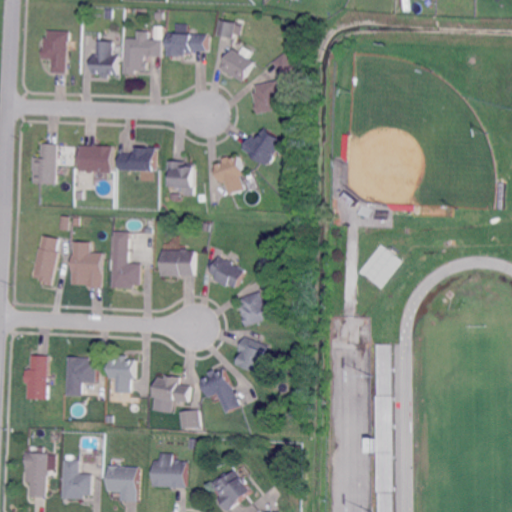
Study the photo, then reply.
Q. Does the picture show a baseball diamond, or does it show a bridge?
baseball diamond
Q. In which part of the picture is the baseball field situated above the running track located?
top right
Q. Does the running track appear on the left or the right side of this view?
right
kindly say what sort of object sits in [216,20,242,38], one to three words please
building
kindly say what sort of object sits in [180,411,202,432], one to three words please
building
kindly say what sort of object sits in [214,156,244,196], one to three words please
house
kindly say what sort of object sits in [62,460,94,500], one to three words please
house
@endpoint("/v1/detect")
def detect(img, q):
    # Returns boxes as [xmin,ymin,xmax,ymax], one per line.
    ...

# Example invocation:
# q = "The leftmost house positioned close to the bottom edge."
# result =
[24,454,50,500]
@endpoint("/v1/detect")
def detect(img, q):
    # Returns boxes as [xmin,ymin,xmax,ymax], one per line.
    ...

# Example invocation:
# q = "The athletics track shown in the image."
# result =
[400,256,512,512]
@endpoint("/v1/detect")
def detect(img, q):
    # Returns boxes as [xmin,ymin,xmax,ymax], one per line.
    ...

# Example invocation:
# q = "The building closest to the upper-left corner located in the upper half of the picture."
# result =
[40,30,70,73]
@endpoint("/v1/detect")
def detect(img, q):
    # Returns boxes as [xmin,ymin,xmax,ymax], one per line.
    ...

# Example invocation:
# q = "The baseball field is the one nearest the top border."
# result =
[348,53,497,218]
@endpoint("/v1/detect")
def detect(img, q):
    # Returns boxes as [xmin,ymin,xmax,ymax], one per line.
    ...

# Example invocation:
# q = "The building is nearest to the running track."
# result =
[360,244,405,290]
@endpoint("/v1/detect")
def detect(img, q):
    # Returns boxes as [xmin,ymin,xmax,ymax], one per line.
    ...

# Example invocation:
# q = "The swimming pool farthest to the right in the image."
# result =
[242,190,260,206]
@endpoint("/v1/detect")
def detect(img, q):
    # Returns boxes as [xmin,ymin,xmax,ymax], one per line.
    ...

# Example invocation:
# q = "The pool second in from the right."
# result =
[125,218,142,232]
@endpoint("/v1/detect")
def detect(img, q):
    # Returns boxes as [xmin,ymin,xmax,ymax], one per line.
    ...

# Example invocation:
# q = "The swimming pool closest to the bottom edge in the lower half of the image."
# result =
[82,436,98,450]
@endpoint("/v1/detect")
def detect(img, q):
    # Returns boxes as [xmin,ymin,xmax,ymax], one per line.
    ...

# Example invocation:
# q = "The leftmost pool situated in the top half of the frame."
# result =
[94,180,110,196]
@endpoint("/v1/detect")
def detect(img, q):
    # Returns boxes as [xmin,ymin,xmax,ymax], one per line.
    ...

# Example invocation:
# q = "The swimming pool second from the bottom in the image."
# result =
[69,402,86,419]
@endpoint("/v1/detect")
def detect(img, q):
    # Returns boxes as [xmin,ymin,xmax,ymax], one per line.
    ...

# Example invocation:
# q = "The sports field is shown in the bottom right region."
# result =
[413,269,512,512]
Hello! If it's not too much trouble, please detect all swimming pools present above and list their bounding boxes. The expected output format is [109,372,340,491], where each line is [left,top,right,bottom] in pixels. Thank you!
[69,402,86,419]
[125,218,142,232]
[94,180,110,196]
[82,436,98,450]
[242,190,260,206]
